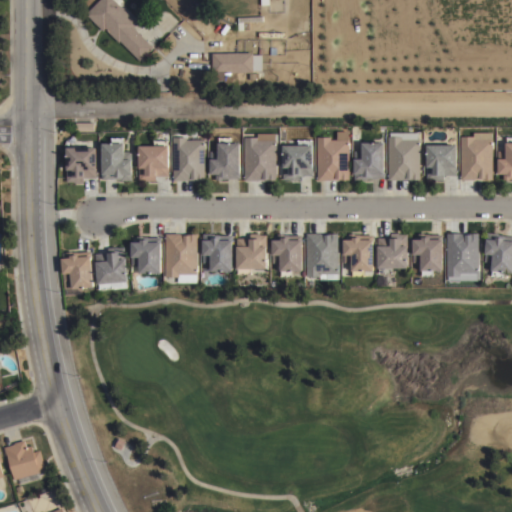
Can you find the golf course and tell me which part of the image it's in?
bottom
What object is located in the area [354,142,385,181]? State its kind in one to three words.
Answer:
house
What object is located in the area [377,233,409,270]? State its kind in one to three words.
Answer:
house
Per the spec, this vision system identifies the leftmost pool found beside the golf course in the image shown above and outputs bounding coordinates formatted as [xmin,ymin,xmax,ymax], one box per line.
[133,274,160,292]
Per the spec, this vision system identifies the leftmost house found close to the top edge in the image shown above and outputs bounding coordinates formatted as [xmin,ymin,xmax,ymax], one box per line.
[86,0,152,60]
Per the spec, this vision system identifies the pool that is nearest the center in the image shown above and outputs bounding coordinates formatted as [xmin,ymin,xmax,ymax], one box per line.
[202,272,228,288]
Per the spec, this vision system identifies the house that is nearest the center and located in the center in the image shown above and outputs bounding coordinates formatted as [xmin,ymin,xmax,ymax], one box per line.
[236,234,268,274]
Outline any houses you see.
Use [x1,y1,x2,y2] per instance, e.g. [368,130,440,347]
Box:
[202,234,234,272]
[343,236,374,276]
[60,252,92,290]
[86,0,152,60]
[212,54,261,73]
[281,140,313,182]
[164,234,200,284]
[137,140,169,182]
[26,494,60,512]
[377,233,409,270]
[236,234,268,274]
[173,136,206,182]
[64,146,97,183]
[271,236,304,278]
[210,138,241,181]
[498,137,512,181]
[354,142,385,181]
[486,236,512,277]
[4,444,44,480]
[317,132,351,182]
[244,134,278,182]
[390,132,422,181]
[100,138,132,181]
[446,233,480,282]
[130,237,162,274]
[426,144,458,182]
[307,234,340,281]
[412,236,444,277]
[462,132,494,182]
[94,247,128,290]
